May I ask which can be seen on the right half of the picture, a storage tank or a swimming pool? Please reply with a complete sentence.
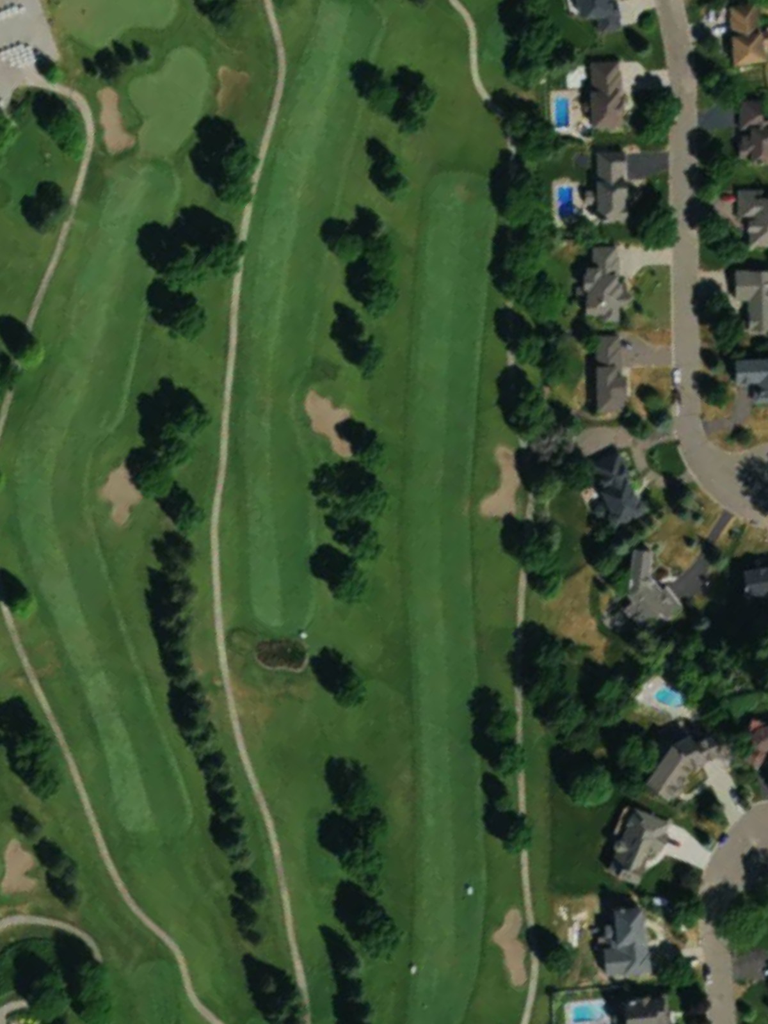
Visible on the right half of the picture is a swimming pool.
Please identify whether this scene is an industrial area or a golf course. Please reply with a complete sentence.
This image shows a golf course.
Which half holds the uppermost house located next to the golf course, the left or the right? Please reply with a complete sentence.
The uppermost house located next to the golf course appears in the right half of the scene.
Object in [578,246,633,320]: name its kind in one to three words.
house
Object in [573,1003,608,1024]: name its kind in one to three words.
swimming pool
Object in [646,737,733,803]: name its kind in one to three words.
house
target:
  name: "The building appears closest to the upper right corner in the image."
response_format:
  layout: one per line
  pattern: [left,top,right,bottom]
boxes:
[733,1,768,66]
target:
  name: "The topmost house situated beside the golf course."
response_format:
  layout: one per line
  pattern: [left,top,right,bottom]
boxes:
[569,0,622,31]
